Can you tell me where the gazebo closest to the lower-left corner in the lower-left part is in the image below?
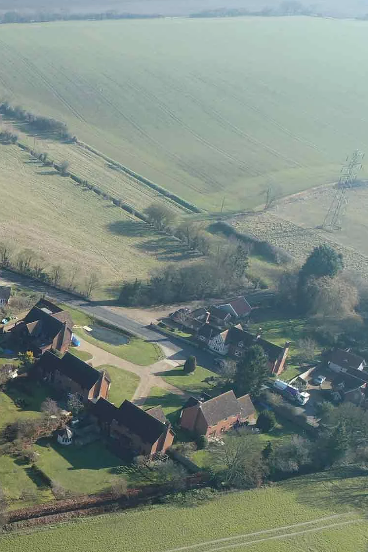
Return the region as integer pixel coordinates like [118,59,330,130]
[58,427,75,447]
